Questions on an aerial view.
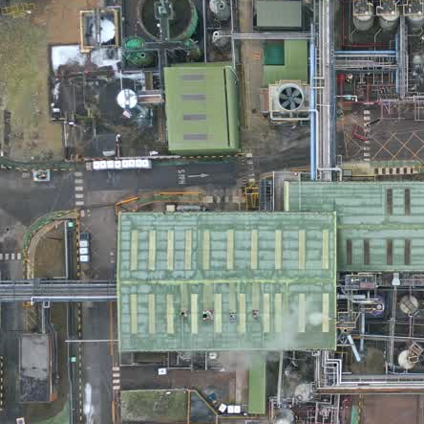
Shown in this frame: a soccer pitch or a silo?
silo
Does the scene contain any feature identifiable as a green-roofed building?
Yes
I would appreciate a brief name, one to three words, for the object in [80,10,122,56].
storage tank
